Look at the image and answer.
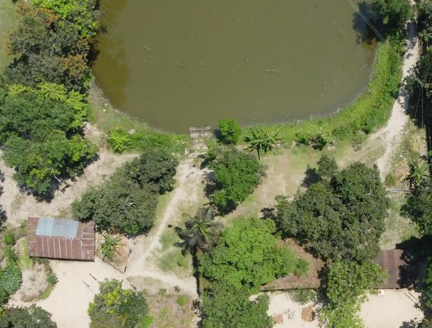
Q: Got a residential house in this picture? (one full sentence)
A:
Yes, a residential house appears in the view.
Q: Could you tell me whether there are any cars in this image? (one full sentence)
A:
No, the photo shows no car.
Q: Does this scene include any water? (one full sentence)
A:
Yes, water shows up in the scene.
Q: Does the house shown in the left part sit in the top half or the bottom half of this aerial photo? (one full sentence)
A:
The house shown in the left part sits in the bottom half of the picture.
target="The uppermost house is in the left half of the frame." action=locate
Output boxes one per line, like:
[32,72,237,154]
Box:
[29,218,97,260]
